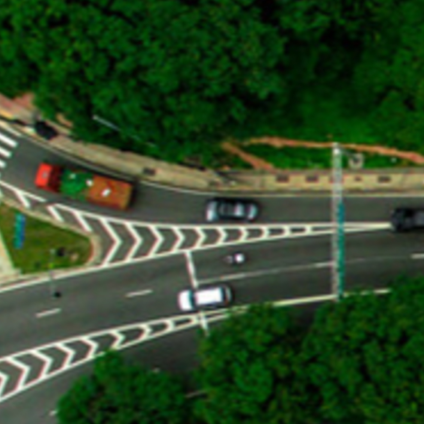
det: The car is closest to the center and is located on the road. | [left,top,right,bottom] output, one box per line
[206,196,260,221]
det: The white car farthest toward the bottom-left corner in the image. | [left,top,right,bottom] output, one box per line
[177,283,234,312]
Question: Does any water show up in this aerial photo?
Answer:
No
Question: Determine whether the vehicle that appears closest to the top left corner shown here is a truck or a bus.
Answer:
truck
